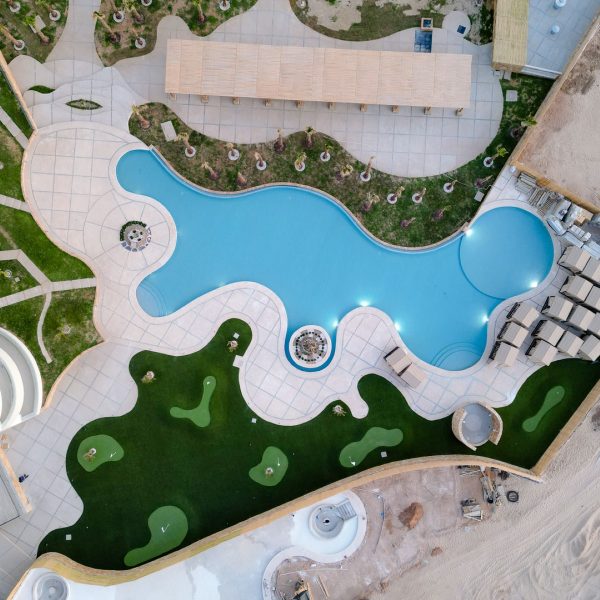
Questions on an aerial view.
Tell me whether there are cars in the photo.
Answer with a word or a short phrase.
No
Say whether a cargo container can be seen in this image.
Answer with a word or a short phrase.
No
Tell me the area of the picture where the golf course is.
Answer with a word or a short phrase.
bottom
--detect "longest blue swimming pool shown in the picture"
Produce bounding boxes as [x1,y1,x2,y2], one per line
[108,142,562,380]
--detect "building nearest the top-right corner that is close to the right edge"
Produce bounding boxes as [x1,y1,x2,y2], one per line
[490,0,600,81]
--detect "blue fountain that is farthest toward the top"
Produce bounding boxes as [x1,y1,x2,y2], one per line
[415,15,434,52]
